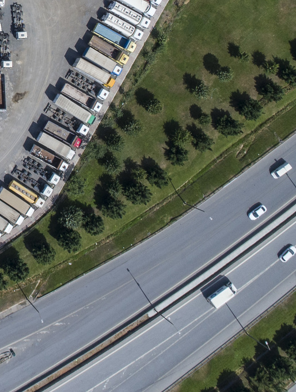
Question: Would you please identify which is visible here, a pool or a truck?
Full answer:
It is a truck that can be seen here.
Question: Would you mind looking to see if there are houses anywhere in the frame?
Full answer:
No, there isn't any house down there.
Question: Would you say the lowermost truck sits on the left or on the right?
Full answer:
You can find the lowermost truck on the right side of the picture.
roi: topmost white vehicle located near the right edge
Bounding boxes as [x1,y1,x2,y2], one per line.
[269,163,291,177]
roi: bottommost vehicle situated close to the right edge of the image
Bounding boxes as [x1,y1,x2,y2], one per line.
[279,245,295,261]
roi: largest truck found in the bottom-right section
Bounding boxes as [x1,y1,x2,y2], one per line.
[200,276,236,312]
